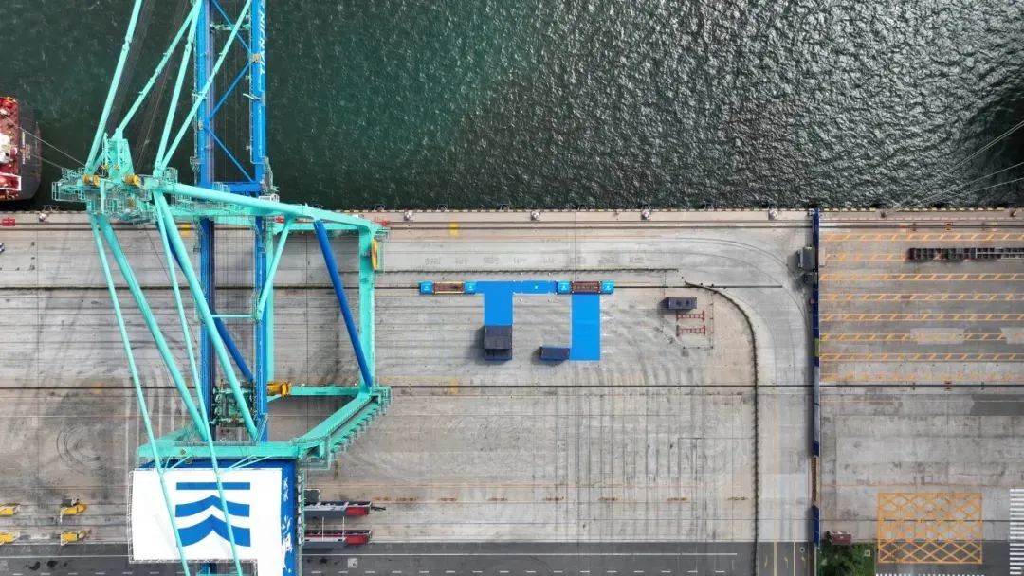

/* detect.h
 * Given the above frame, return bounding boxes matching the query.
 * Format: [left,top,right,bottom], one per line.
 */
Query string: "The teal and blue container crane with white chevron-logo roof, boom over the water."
[44,0,394,576]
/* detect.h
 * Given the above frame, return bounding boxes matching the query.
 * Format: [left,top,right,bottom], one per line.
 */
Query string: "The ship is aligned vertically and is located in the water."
[0,94,43,201]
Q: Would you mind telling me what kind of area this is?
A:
port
